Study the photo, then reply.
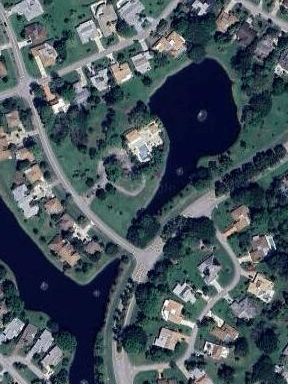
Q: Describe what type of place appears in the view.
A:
residential area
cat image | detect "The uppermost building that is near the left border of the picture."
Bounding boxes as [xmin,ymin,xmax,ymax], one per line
[11,0,47,20]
